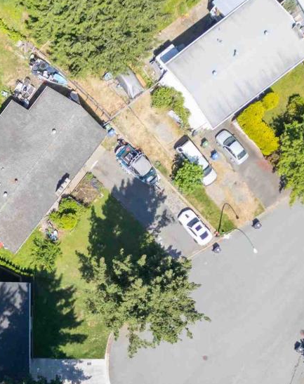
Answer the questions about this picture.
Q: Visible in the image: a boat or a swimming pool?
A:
boat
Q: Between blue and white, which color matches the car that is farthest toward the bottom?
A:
white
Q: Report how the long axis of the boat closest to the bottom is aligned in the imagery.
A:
at an angle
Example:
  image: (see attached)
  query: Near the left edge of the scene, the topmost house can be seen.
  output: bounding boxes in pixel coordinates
[0,86,106,255]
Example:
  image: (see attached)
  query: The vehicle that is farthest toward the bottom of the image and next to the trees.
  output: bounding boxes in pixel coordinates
[173,204,214,250]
